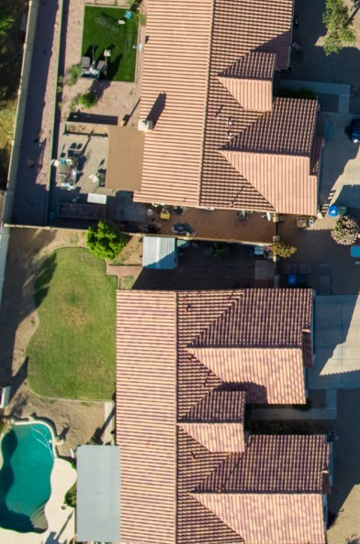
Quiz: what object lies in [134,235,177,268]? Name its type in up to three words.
shed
